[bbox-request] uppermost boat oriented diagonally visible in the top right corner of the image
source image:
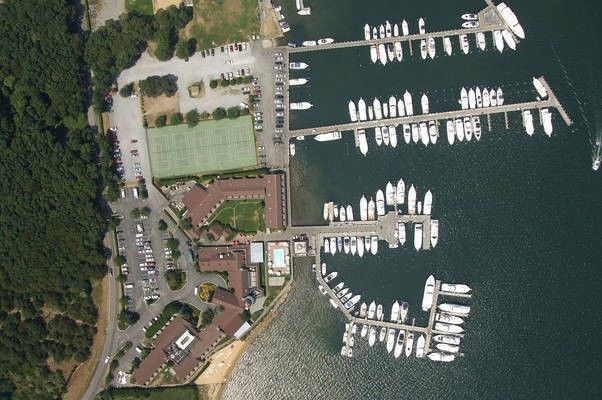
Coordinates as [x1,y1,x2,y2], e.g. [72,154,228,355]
[497,1,526,38]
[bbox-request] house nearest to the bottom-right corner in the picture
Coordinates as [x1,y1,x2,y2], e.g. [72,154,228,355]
[293,238,316,257]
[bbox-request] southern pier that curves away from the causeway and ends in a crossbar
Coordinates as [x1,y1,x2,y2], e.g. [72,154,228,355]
[315,236,471,357]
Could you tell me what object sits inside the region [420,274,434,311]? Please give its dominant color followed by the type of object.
white boat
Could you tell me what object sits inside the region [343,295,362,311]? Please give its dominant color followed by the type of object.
white boat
